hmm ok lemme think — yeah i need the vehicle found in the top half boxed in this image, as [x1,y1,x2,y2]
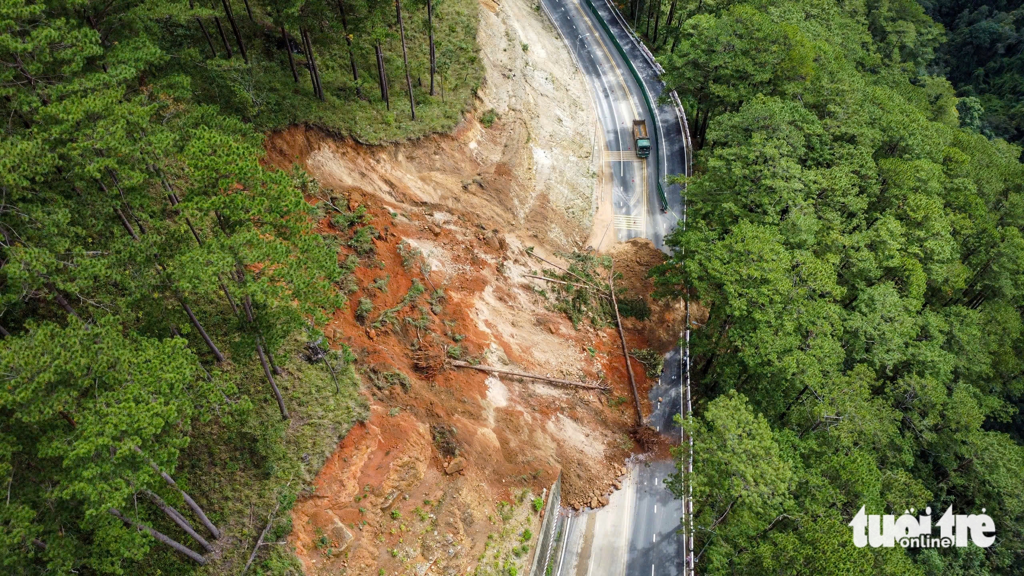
[635,117,654,152]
